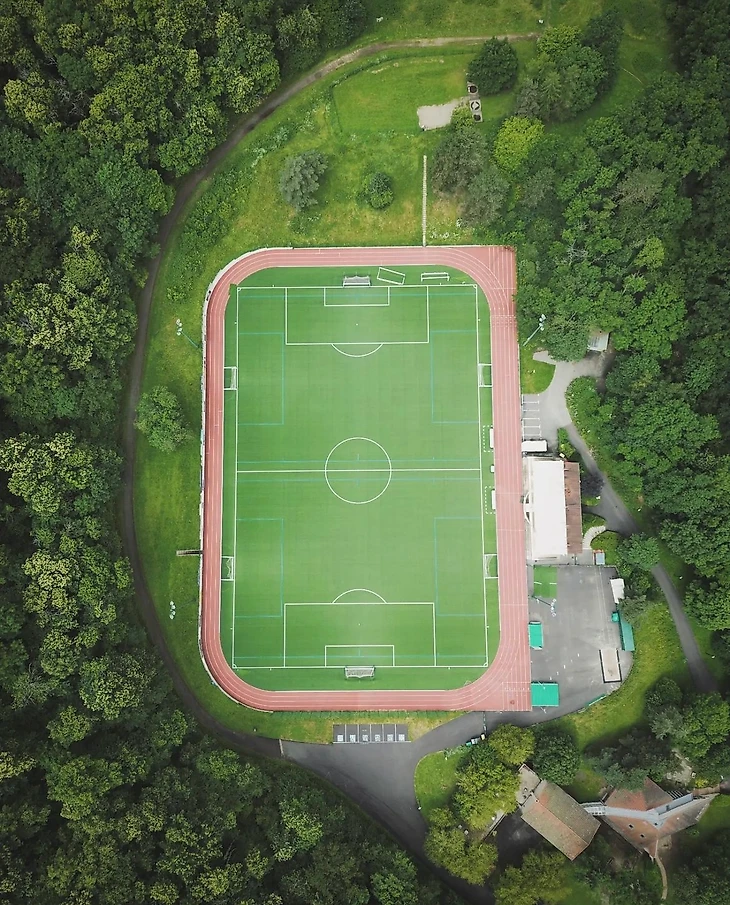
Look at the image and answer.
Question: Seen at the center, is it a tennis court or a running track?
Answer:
running track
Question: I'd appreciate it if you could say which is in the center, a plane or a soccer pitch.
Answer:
soccer pitch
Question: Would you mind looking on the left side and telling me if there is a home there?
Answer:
No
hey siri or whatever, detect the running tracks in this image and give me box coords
[201,246,531,711]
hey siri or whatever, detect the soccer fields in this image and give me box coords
[220,265,499,691]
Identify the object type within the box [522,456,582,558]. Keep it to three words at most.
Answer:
building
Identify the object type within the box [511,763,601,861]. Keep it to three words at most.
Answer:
house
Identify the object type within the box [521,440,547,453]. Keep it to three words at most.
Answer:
building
